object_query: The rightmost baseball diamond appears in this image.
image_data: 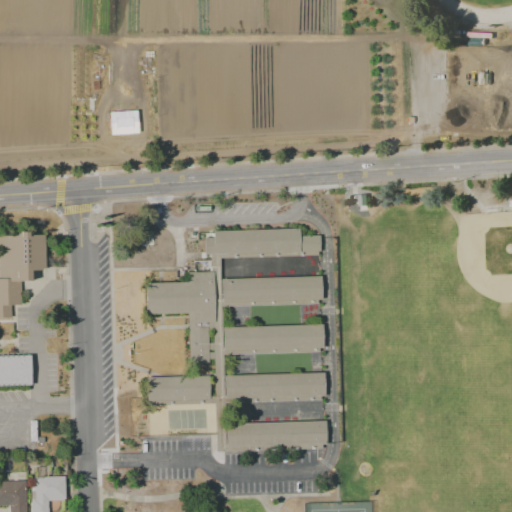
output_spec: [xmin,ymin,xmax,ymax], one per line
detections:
[458,212,512,302]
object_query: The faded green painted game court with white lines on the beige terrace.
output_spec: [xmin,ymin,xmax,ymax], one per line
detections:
[168,410,206,428]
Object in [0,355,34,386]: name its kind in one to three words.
building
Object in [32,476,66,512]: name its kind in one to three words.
house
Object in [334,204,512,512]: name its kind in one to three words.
sports field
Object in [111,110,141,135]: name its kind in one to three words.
barn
